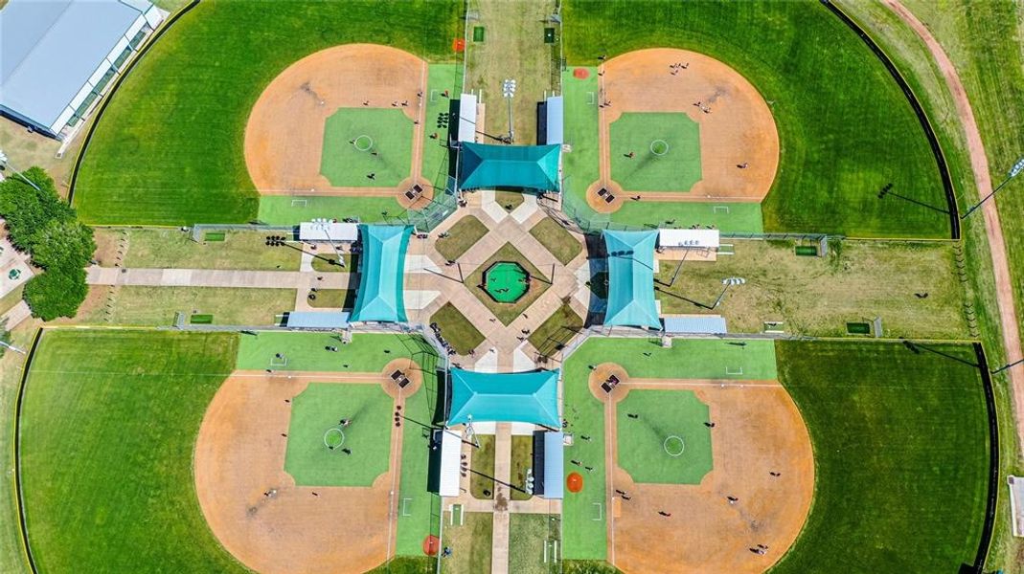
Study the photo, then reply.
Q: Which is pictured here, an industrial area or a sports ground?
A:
sports ground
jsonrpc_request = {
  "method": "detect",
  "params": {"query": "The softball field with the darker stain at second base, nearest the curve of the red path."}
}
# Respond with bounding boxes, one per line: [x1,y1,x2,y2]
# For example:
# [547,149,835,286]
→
[561,0,955,239]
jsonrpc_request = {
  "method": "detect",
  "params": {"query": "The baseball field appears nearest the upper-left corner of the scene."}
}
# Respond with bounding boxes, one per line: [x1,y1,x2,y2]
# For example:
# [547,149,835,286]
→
[69,0,467,230]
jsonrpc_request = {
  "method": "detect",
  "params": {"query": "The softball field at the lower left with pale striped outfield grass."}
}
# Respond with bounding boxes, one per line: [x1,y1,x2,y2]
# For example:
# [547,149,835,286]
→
[18,326,447,574]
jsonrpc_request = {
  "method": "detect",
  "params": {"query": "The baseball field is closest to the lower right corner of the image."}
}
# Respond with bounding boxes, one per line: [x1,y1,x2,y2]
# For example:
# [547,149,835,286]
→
[559,337,995,574]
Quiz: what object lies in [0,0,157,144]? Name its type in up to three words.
building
